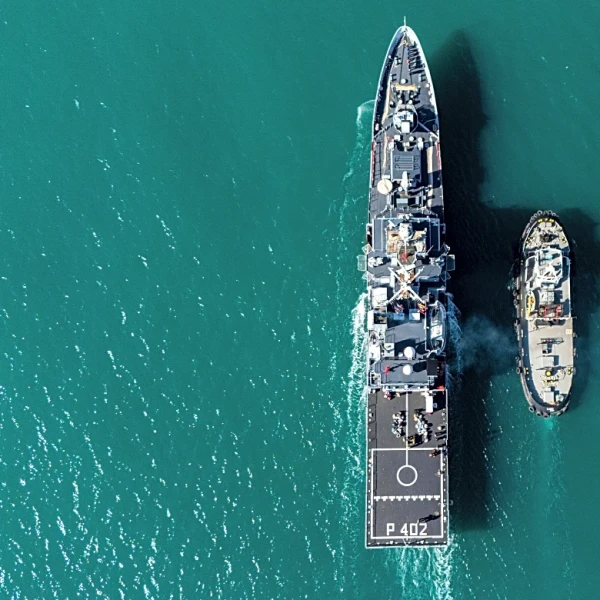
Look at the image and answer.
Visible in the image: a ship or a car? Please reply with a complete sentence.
It is a ship that can be seen here.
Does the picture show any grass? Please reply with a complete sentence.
No, grass can't be seen anywhere here.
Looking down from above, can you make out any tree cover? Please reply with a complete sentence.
No, no tree cover is visible.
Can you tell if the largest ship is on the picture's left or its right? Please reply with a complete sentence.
The largest ship is on the right side of the image.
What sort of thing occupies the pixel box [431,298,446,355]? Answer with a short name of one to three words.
boat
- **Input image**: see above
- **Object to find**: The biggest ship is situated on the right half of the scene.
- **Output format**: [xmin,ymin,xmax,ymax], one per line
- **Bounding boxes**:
[357,16,455,548]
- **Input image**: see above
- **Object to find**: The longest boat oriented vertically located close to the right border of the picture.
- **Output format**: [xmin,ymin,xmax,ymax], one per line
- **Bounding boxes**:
[512,209,578,417]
